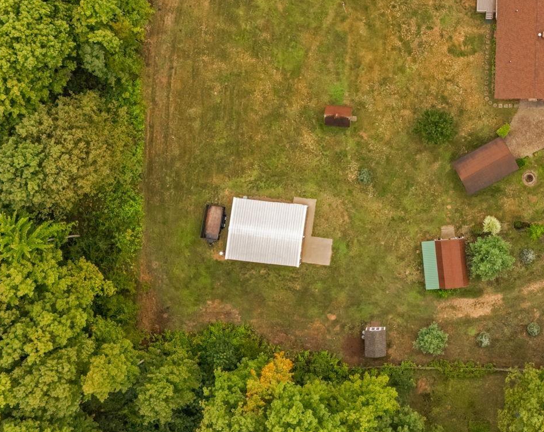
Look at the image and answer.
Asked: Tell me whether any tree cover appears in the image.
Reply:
Yes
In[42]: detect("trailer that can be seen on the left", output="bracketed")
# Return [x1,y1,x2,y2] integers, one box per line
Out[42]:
[201,203,224,245]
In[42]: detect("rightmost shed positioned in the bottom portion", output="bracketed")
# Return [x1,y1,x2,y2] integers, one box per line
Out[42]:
[435,234,469,289]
